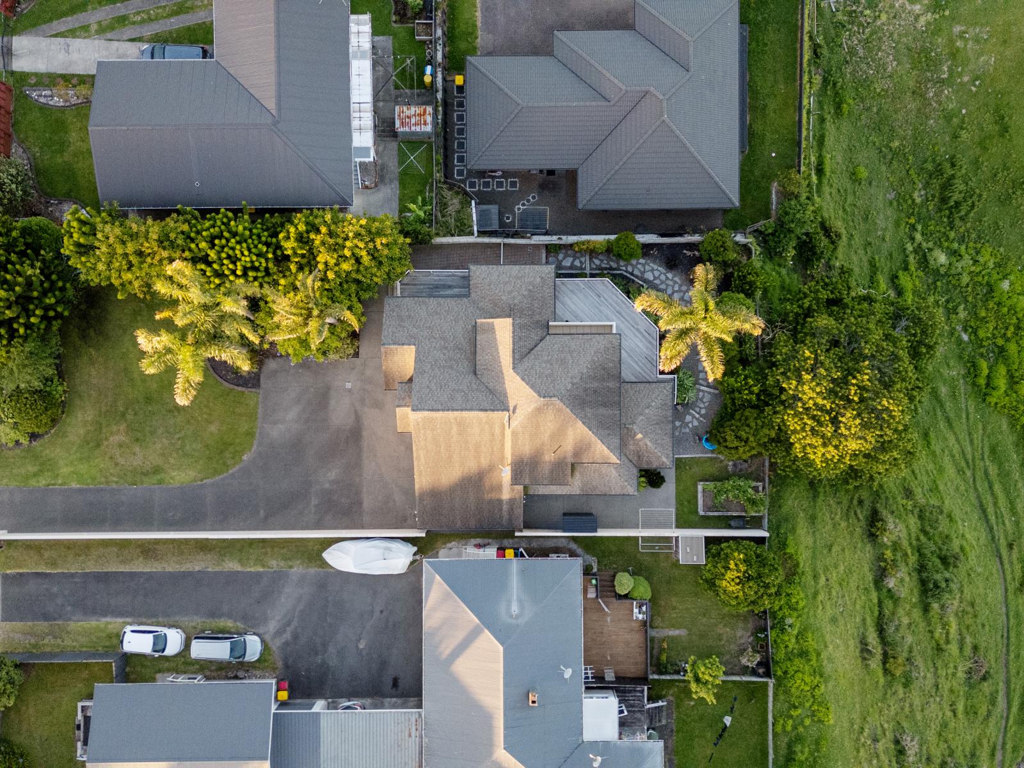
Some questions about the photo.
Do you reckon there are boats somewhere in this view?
Yes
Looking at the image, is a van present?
Yes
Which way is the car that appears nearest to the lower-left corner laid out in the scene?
from left to right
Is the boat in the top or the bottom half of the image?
bottom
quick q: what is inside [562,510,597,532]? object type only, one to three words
shed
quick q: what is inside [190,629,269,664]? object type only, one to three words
van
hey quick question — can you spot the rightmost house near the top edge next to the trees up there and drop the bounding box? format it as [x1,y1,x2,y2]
[464,0,741,211]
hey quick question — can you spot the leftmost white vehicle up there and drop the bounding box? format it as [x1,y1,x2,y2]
[117,623,187,660]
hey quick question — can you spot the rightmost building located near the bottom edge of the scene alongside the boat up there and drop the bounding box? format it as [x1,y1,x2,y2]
[421,554,666,768]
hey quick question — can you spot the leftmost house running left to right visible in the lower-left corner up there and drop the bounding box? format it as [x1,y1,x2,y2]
[86,678,277,768]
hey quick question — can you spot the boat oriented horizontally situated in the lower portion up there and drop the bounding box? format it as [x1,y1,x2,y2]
[323,537,427,571]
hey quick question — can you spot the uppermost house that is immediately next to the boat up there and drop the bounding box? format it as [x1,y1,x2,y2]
[381,263,676,532]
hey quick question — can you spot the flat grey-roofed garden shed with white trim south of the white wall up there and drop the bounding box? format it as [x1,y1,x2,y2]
[675,535,705,564]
